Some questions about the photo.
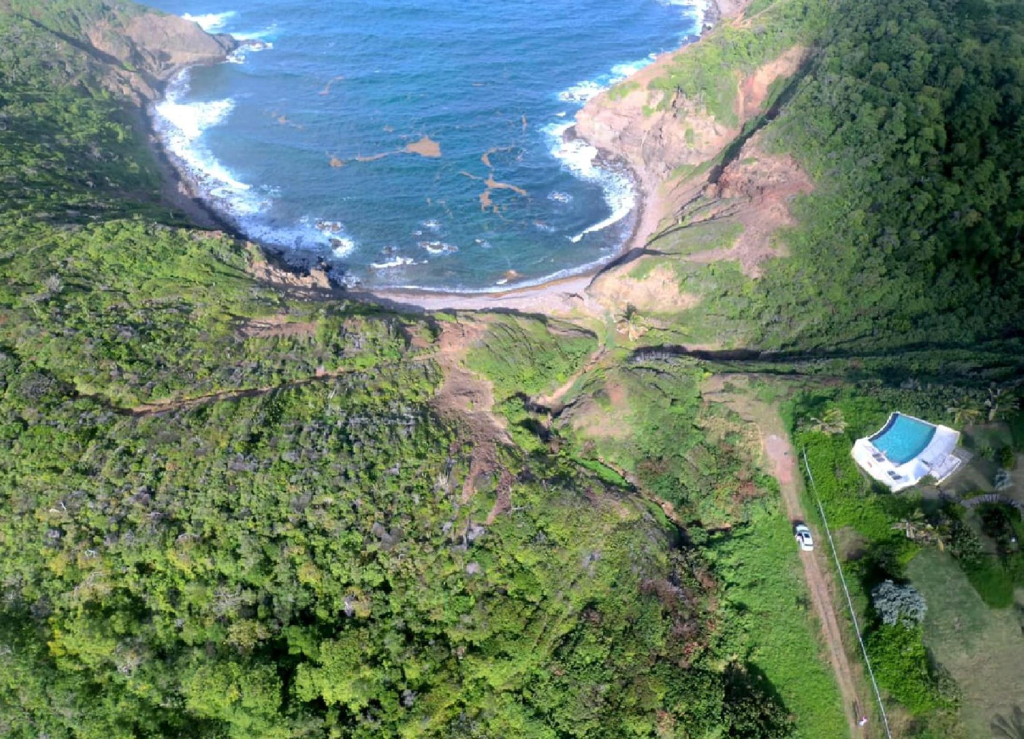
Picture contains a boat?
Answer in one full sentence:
No, I can see no boat in this picture.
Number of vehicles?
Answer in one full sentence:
I count just 1 vehicle.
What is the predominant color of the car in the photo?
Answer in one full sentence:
In this view, the car is white.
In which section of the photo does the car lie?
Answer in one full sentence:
Look in the bottom right portion of the view to spot the car.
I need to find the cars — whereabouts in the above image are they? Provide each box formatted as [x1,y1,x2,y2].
[792,528,814,553]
